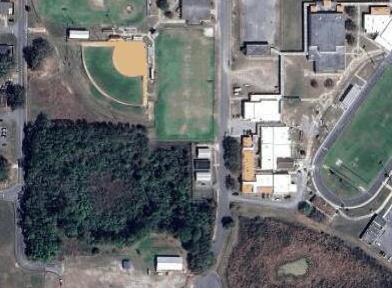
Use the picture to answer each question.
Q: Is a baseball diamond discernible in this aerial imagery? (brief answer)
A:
Yes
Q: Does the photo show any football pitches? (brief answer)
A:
Yes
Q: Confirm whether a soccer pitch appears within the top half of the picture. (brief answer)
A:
Yes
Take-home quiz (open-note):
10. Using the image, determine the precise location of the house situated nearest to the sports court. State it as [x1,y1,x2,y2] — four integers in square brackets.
[245,42,272,56]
